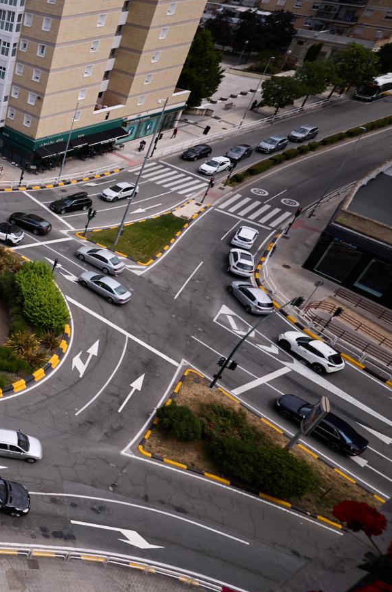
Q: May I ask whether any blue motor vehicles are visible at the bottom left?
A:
No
